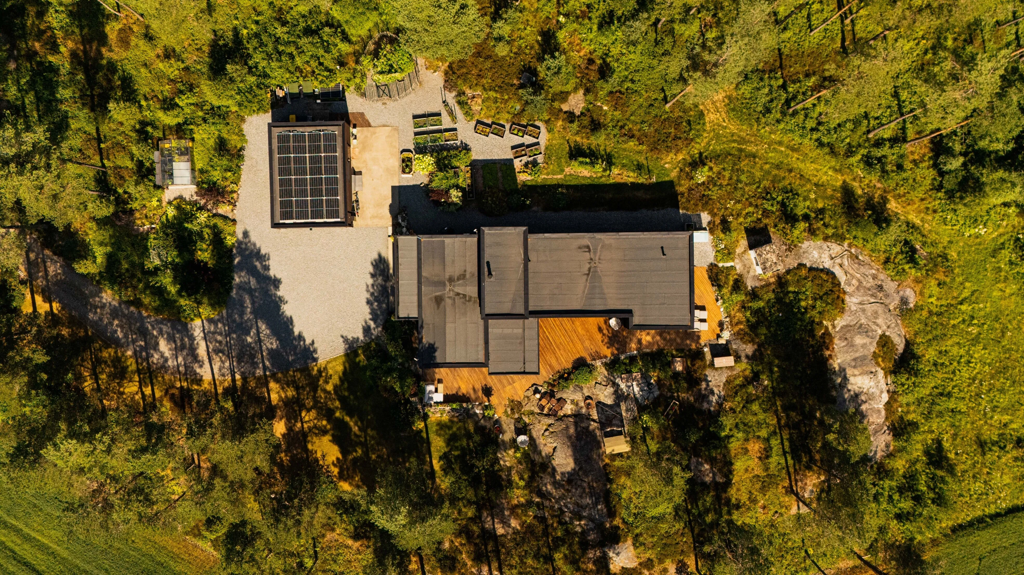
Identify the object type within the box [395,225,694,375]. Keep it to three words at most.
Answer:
house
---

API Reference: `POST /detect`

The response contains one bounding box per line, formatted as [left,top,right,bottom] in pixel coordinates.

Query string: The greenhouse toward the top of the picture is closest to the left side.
[158,135,197,183]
